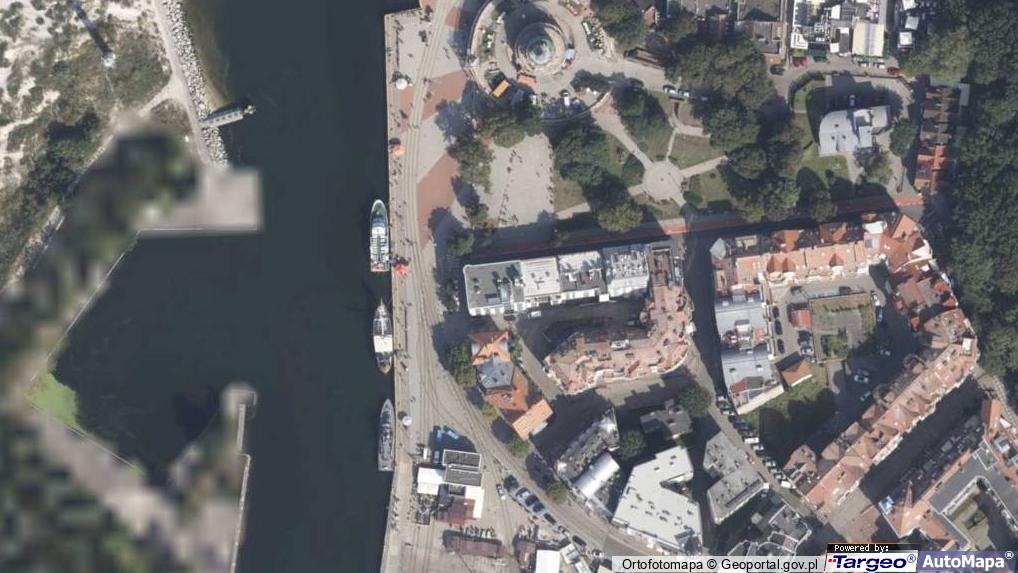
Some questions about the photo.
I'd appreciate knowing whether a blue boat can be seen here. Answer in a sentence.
No, I can't see a single blue boat in this photo.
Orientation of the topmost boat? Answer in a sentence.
What the image shows is the topmost boat lying vertically.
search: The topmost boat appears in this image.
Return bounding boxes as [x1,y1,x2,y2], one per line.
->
[371,201,394,277]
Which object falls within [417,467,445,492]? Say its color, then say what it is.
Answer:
white tent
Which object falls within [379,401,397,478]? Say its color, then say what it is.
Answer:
gray ship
